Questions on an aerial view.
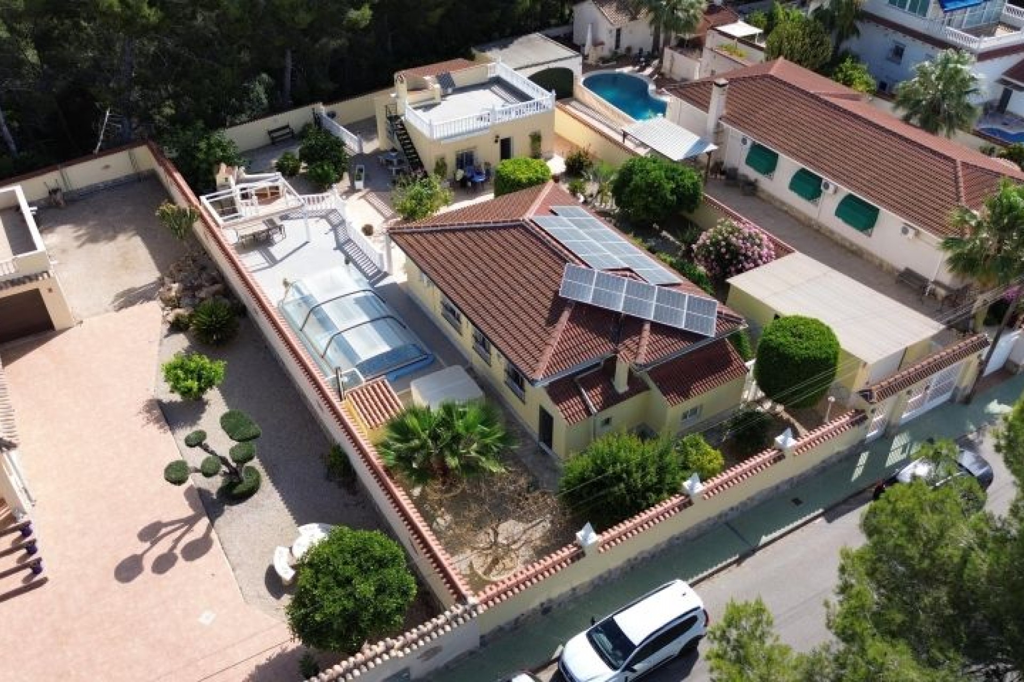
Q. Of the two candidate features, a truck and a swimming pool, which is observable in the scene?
swimming pool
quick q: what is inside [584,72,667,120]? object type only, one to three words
swimming pool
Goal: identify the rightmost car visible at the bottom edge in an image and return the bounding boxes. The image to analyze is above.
[555,588,713,682]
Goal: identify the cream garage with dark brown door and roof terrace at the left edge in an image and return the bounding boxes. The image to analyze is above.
[0,184,72,343]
